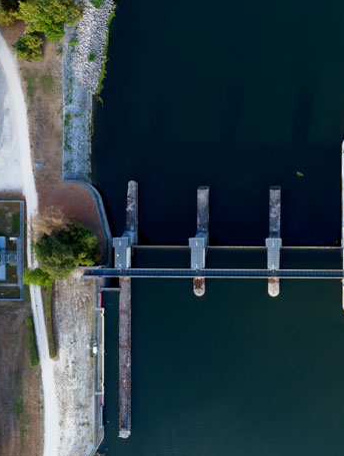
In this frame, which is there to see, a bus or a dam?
dam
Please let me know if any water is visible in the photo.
Yes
